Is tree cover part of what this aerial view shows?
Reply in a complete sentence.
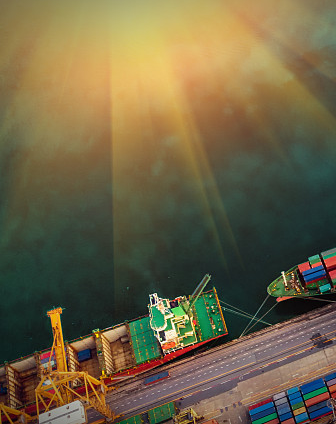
No, no tree cover is visible.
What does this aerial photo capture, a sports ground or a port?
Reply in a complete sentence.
This image shows a port.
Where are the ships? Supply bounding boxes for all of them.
[0,263,228,420]
[266,253,336,299]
